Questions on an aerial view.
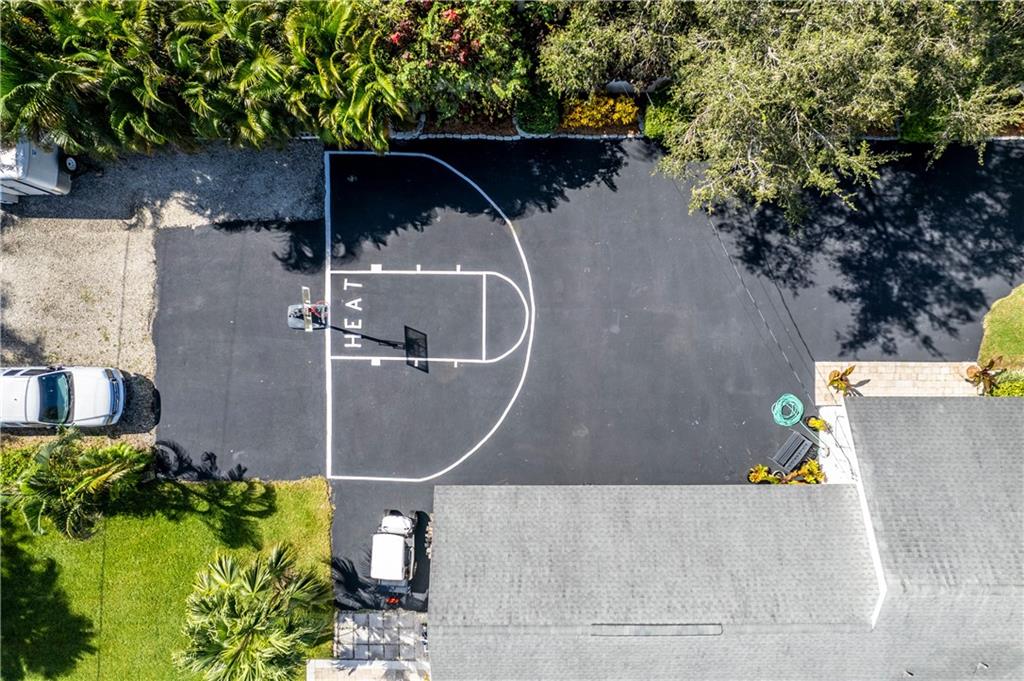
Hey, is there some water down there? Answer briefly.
No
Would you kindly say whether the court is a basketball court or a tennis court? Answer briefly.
basketball court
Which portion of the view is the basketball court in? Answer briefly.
center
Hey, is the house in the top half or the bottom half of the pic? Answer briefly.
bottom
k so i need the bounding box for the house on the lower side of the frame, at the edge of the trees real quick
[426,397,1024,681]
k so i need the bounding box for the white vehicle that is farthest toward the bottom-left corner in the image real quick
[0,362,126,432]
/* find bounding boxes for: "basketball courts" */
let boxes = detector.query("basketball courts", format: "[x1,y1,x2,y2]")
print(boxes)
[325,150,535,481]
